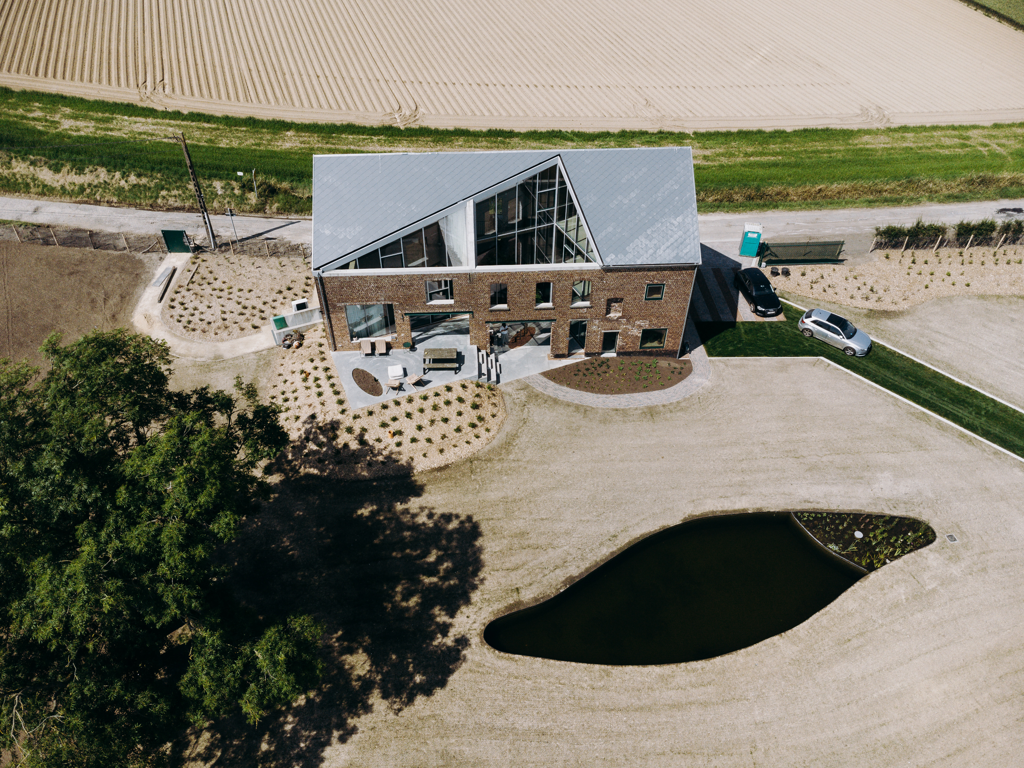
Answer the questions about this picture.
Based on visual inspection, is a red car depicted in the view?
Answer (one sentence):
No, no red car can be seen from above.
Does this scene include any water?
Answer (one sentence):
Yes, water can be seen from above here.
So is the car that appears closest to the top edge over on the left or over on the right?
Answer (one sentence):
The car that appears closest to the top edge is on the right side of the image.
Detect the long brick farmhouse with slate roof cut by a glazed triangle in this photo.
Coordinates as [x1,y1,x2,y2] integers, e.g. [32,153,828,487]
[312,144,703,357]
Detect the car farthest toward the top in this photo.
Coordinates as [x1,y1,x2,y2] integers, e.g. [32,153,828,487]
[739,265,784,315]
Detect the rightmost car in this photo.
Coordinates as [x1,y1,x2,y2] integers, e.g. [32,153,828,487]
[798,305,876,358]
